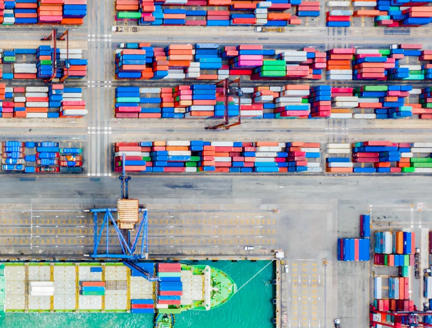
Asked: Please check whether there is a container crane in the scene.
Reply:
Yes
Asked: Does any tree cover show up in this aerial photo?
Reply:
No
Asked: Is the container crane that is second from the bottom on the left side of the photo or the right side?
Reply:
left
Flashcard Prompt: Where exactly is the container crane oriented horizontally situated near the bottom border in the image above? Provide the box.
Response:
[360,304,430,328]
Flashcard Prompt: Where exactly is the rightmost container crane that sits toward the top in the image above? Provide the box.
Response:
[204,78,242,129]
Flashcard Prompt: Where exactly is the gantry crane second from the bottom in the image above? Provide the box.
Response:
[80,133,165,283]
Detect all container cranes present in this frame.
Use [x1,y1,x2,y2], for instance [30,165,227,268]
[360,304,430,328]
[204,78,242,129]
[80,133,165,283]
[40,29,71,82]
